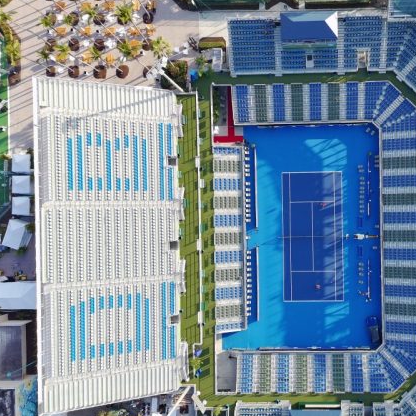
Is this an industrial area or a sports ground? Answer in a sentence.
The area seen from above is a sports ground.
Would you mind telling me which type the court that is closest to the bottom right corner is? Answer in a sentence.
It looks like the court that is closest to the bottom right corner is a tennis court.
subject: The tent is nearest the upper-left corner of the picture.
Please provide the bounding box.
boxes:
[12,154,37,173]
